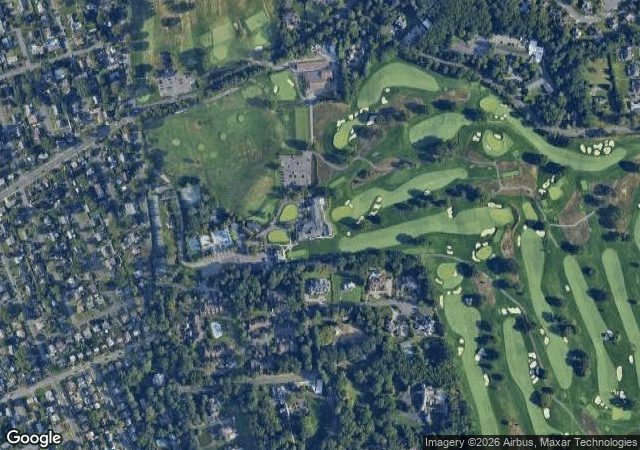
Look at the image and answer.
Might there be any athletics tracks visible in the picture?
No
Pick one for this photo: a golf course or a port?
golf course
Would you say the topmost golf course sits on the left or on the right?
left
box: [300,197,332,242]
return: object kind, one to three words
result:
building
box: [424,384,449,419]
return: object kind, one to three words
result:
house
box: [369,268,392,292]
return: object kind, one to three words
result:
house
